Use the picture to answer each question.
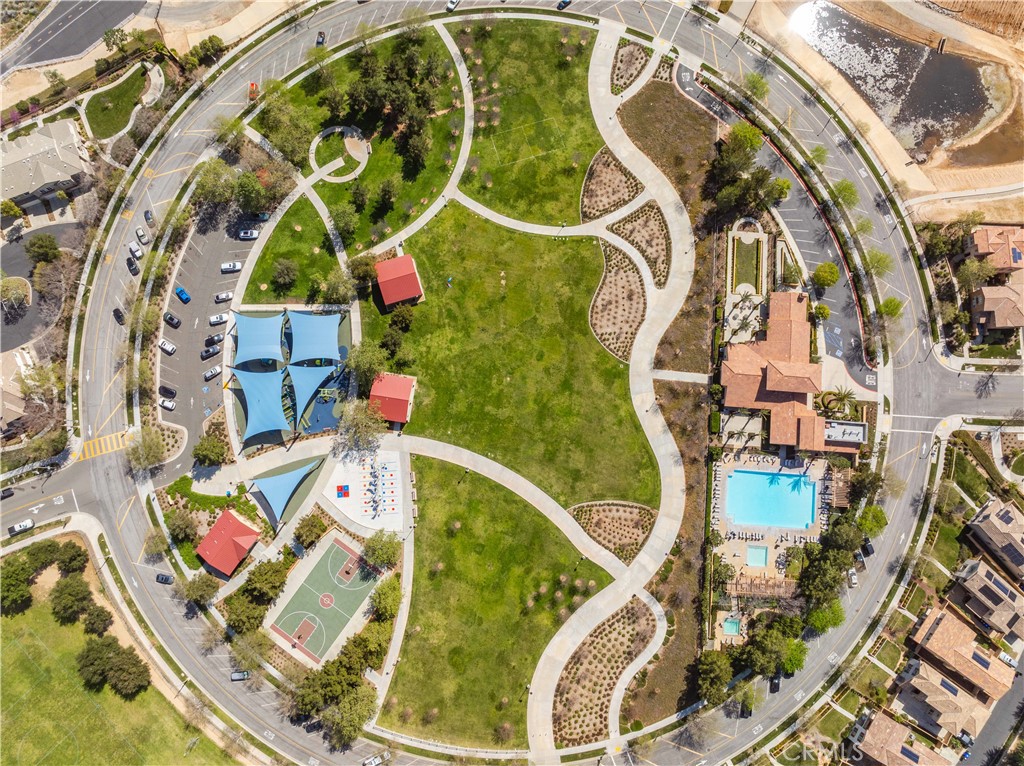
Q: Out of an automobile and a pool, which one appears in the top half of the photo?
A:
automobile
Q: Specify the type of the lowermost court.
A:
basketball court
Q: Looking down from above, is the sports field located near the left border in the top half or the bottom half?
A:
bottom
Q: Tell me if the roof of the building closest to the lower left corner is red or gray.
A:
red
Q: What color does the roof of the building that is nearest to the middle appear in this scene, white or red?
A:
red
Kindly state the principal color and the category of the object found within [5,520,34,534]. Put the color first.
white vehicle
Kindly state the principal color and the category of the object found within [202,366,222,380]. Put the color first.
white car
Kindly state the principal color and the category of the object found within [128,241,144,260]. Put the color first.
white car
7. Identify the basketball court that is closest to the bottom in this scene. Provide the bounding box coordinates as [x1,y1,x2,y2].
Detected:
[261,542,393,670]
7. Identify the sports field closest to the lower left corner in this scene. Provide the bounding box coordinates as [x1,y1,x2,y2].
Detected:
[0,630,144,766]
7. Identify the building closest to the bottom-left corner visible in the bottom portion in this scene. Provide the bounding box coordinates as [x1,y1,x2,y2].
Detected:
[197,510,261,580]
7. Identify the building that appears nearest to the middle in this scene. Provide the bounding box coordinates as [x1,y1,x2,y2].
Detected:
[374,373,419,426]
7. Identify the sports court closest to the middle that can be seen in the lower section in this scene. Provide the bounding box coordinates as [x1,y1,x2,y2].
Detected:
[324,451,403,532]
